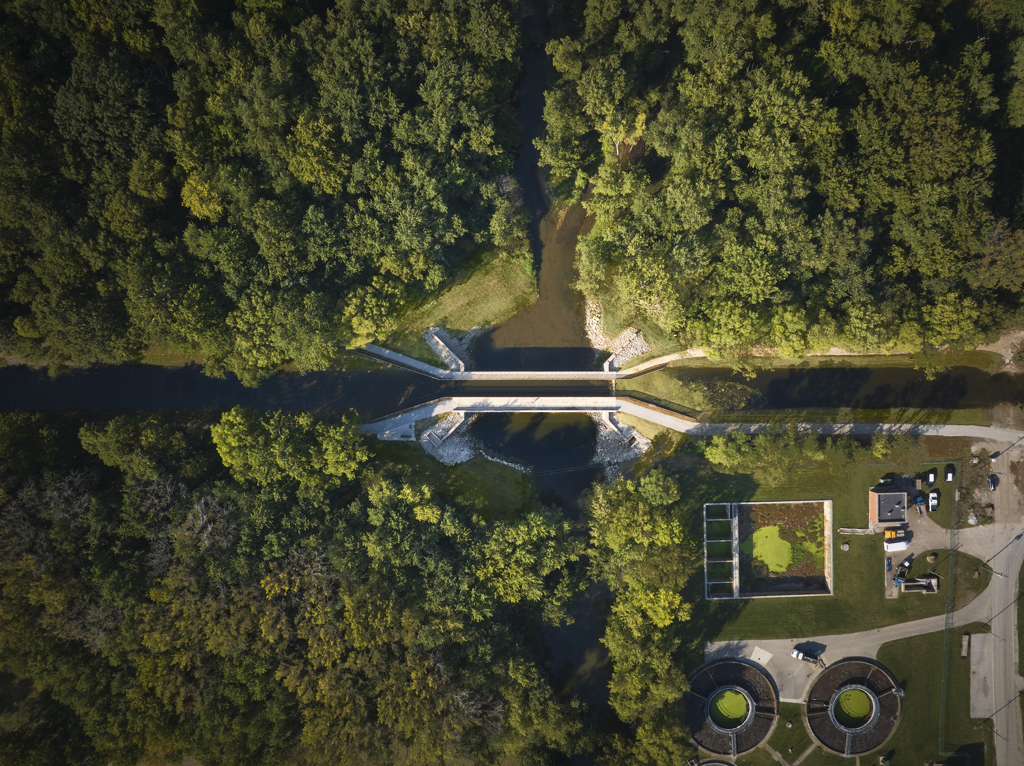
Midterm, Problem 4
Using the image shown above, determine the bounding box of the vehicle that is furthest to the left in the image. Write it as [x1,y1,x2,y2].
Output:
[791,648,827,663]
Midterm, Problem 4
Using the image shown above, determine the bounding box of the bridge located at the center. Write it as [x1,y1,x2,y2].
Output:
[432,330,641,444]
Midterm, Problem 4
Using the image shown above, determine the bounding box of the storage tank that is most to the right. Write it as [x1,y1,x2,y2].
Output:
[806,661,907,765]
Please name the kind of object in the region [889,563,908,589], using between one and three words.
vehicle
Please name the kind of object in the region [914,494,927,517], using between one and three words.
vehicle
